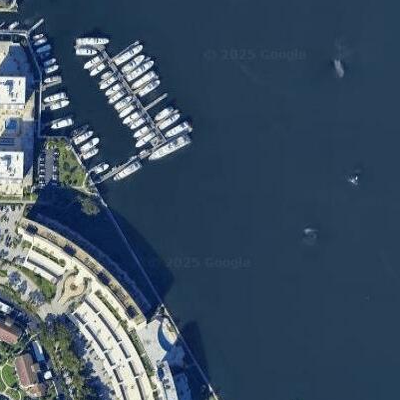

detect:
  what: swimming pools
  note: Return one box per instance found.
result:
[162,318,177,343]
[4,120,17,130]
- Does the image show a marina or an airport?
marina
